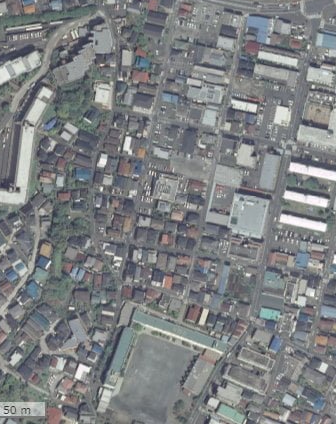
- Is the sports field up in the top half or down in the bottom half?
bottom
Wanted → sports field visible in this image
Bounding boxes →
[115,332,199,424]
